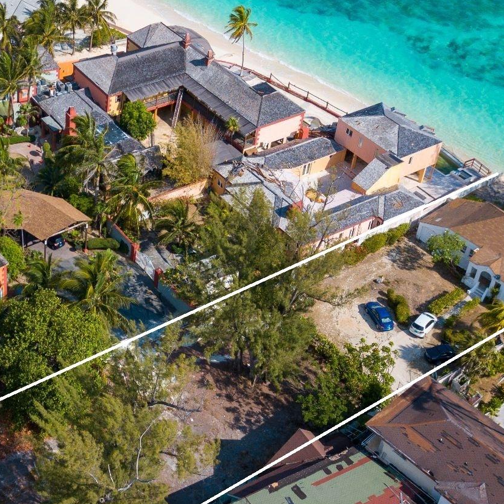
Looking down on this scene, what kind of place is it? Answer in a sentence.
What you see here is a residential area.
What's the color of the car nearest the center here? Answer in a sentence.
The car nearest the center is blue.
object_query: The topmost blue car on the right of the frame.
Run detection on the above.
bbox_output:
[362,304,397,335]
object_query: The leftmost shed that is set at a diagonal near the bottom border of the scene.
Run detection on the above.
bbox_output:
[231,429,333,503]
